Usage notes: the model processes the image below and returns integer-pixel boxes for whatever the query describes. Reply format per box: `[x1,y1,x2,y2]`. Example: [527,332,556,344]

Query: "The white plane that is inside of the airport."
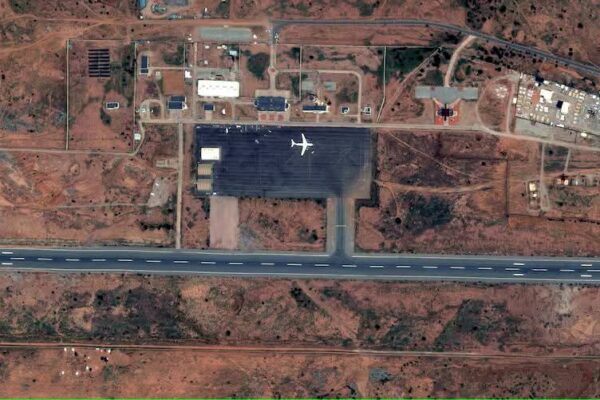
[291,134,313,155]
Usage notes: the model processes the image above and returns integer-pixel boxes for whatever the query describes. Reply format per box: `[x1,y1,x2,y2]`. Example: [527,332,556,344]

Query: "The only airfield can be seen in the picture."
[0,126,600,284]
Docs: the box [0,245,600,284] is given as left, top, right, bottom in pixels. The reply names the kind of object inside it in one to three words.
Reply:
runway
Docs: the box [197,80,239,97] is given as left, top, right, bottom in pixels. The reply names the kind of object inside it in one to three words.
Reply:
building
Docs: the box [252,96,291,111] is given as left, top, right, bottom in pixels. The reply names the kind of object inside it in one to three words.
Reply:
building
